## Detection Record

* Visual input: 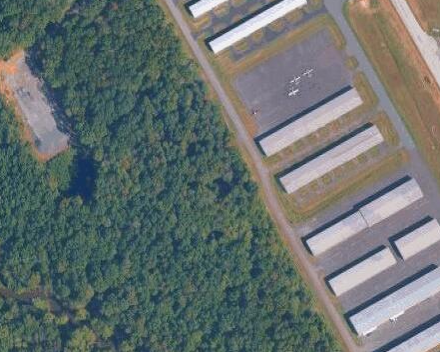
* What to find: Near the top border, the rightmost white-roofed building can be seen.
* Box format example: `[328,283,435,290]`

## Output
[209,0,307,54]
